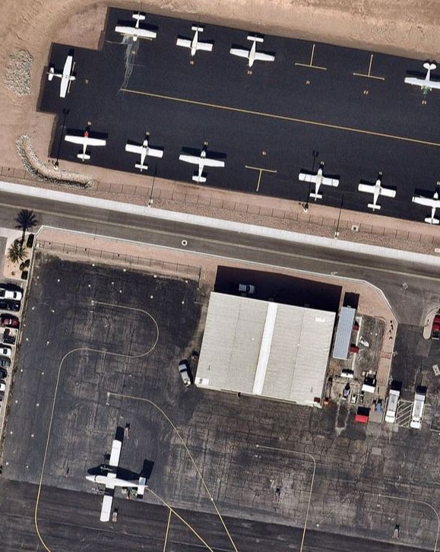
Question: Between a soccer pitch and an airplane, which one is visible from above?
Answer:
airplane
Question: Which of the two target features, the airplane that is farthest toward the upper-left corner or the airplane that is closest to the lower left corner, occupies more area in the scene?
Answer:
the airplane that is closest to the lower left corner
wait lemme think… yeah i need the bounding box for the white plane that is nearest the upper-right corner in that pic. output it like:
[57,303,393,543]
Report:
[404,61,440,95]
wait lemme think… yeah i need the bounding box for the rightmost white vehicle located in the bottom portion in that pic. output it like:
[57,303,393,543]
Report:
[411,393,425,430]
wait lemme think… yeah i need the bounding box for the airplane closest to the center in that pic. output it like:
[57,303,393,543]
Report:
[180,150,224,182]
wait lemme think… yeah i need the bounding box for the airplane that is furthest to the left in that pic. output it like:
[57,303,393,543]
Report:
[48,55,79,97]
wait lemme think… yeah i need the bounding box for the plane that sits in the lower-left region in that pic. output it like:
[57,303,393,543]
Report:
[88,437,148,519]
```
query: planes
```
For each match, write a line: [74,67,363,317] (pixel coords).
[180,150,224,182]
[88,437,148,519]
[114,13,156,42]
[230,32,275,66]
[412,191,440,223]
[48,55,79,97]
[404,61,440,95]
[175,25,214,55]
[124,137,163,171]
[358,177,397,209]
[65,130,107,161]
[298,167,339,200]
